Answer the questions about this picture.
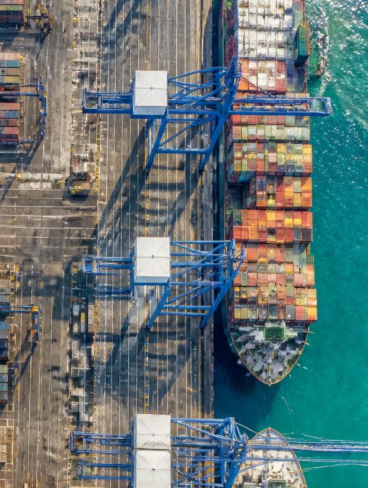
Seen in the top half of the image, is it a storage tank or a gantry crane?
gantry crane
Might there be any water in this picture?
Yes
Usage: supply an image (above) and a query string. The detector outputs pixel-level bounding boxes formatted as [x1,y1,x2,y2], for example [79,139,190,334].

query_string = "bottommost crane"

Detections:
[77,447,262,488]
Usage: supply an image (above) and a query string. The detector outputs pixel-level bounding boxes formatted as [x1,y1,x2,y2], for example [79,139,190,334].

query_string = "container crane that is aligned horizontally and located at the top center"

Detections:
[82,60,336,180]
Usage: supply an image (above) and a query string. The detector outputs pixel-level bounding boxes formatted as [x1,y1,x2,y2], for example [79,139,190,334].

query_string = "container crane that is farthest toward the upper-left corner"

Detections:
[0,3,54,68]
